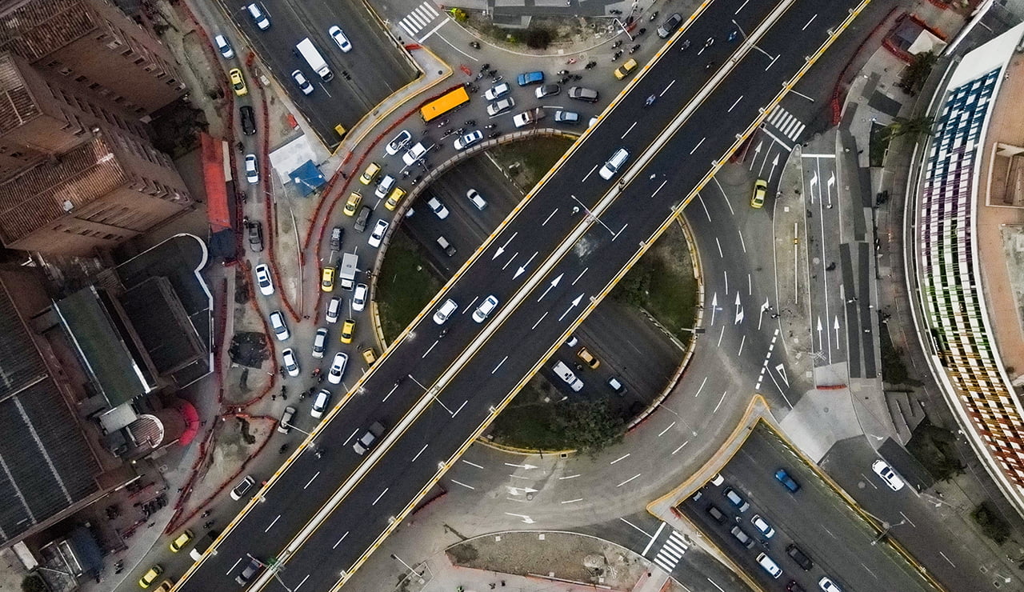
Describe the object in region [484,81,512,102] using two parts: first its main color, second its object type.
white car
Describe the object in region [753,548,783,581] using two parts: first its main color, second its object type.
white van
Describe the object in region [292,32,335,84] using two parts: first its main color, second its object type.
white truck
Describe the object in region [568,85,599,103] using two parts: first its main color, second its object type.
gray car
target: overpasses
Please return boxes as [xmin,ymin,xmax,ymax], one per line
[164,0,871,592]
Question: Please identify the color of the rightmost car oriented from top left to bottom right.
white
